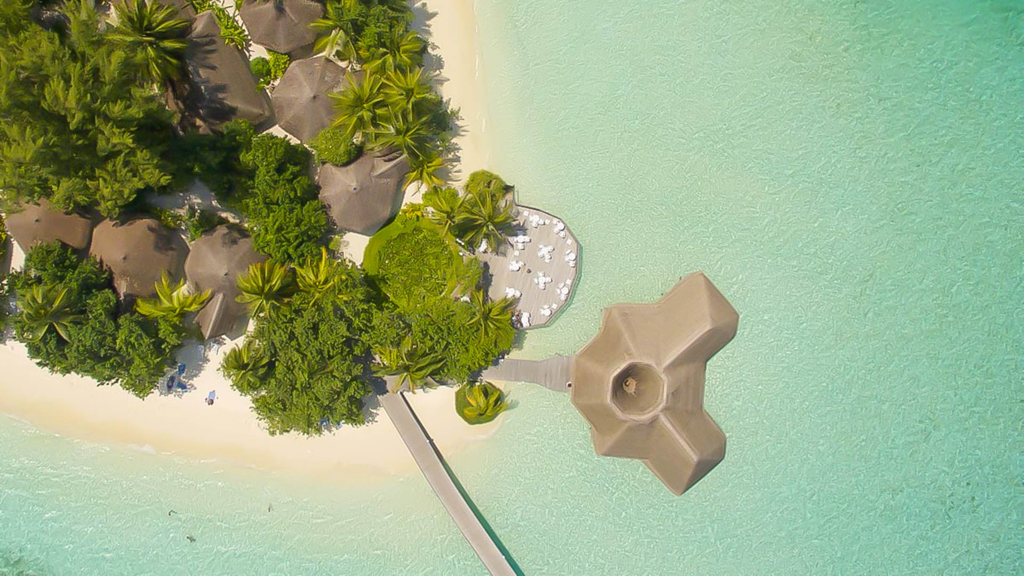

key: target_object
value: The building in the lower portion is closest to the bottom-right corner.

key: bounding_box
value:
[571,270,739,496]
